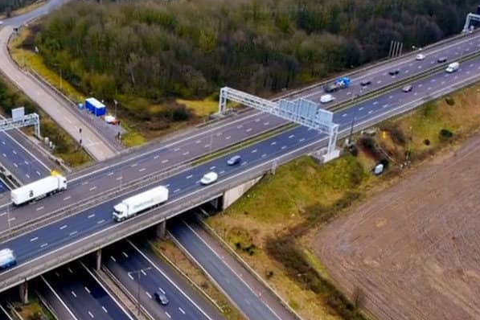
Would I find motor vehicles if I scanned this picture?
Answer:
Yes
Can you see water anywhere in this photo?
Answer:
No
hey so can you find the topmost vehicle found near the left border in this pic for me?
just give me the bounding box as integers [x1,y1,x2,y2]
[14,176,69,206]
